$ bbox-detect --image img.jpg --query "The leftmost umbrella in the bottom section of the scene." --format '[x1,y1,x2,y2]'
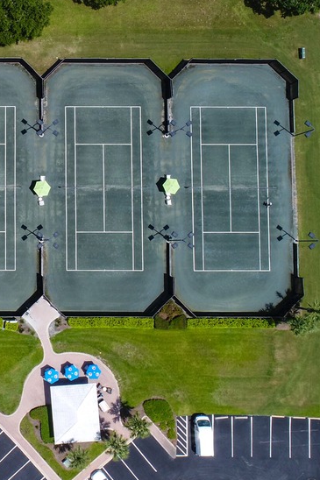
[45,368,59,384]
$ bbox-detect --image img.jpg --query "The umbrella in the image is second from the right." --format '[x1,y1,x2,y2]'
[87,366,101,379]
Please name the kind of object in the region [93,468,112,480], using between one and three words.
vehicle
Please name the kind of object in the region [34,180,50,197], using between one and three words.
umbrella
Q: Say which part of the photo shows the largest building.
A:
bottom left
